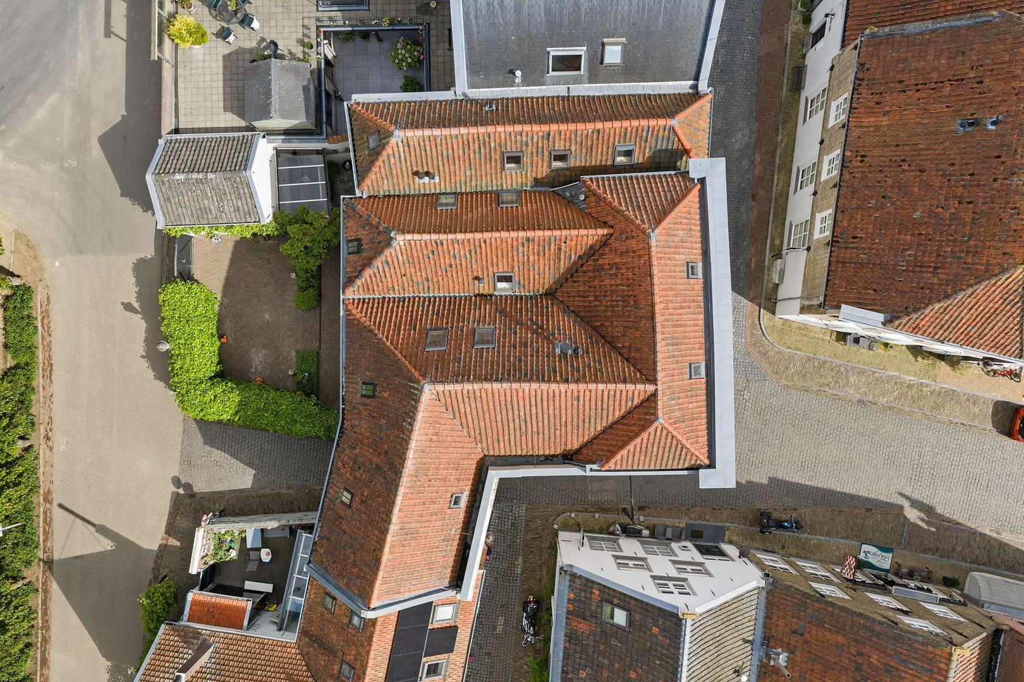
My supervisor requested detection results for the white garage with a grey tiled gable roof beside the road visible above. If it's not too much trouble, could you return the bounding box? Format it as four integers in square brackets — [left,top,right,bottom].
[145,129,276,229]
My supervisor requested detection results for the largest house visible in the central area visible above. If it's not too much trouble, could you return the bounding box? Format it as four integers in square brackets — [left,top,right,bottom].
[304,158,736,622]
